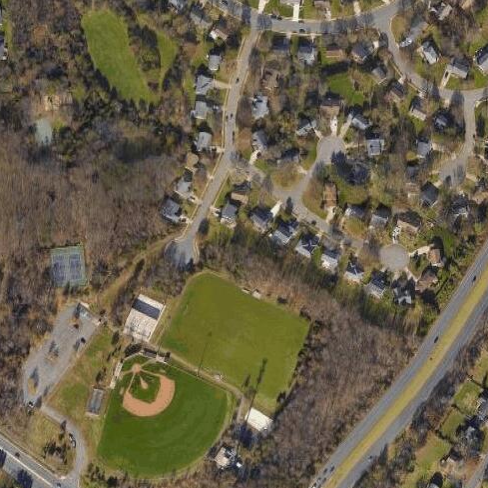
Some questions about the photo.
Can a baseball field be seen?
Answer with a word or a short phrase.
Yes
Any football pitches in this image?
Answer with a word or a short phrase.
Yes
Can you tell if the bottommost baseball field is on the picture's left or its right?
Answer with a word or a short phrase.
left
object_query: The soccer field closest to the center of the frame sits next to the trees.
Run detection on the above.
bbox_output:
[162,269,310,413]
